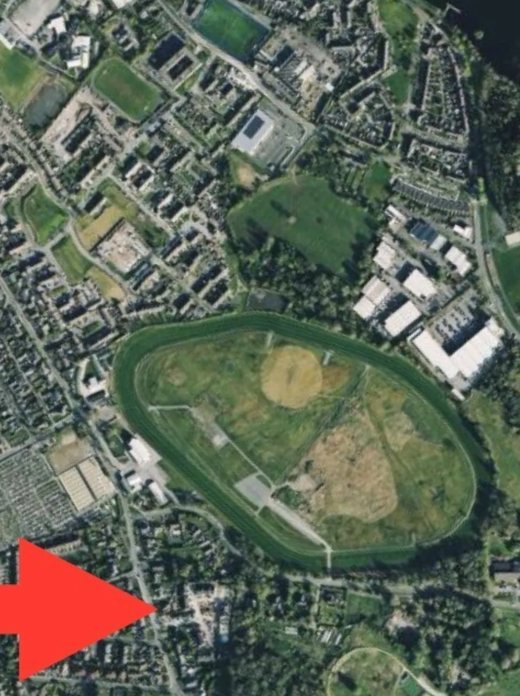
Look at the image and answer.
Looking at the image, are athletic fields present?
Yes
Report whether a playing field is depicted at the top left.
Yes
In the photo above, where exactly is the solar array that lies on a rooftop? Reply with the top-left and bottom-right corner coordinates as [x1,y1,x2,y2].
[243,119,265,143]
